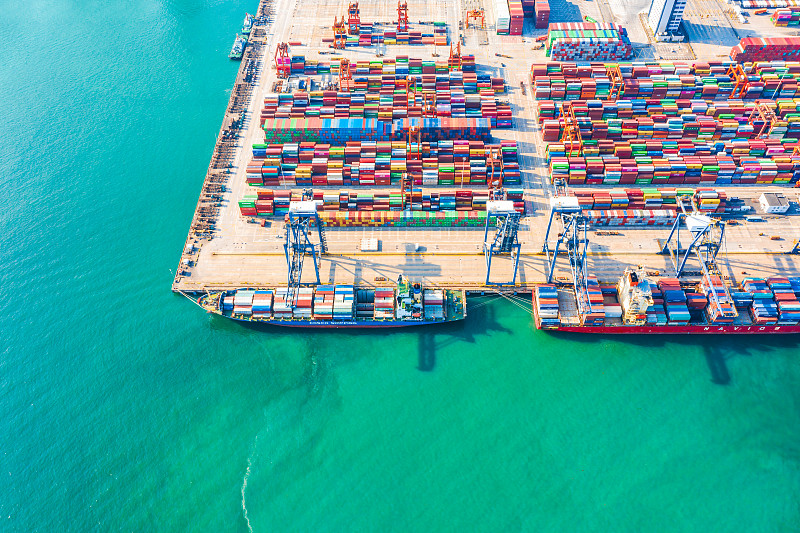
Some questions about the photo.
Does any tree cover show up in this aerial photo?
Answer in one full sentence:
No, the scene doesn't show any tree cover.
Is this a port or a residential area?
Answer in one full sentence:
The picture captures a port.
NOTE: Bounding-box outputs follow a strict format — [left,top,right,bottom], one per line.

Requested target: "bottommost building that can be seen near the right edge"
[761,193,798,214]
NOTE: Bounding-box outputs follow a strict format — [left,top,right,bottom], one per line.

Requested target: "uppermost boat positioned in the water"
[241,13,254,35]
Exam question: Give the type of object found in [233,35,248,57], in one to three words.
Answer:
boat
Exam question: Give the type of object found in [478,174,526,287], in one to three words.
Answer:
container crane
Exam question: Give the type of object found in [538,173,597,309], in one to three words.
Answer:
container crane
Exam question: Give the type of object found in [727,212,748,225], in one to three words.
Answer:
vehicle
